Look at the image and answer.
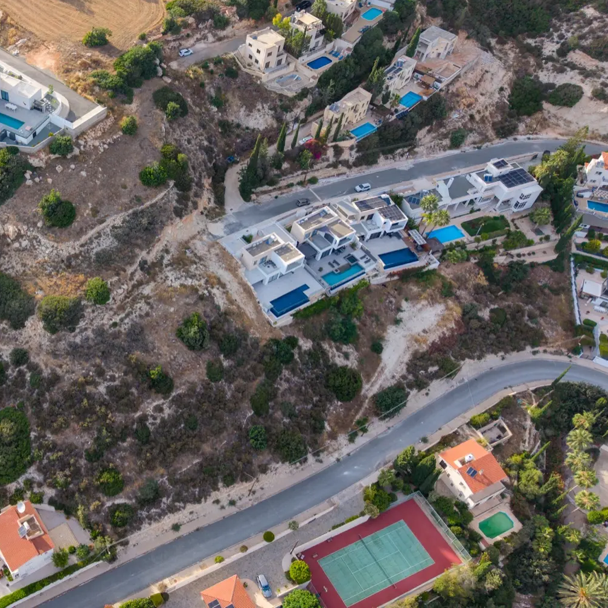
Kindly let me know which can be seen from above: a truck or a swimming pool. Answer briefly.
swimming pool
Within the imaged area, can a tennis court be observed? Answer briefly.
Yes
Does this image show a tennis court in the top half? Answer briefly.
No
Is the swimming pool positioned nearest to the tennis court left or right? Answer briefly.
right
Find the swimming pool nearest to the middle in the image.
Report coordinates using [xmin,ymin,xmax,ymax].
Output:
[270,283,310,315]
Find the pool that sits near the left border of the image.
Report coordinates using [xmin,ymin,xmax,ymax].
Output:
[0,112,25,129]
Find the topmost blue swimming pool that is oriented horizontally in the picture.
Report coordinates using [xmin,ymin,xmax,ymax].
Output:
[306,56,333,70]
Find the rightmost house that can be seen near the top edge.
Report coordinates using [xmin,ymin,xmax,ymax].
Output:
[414,27,457,59]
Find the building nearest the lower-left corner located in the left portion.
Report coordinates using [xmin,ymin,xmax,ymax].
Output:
[0,500,56,580]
